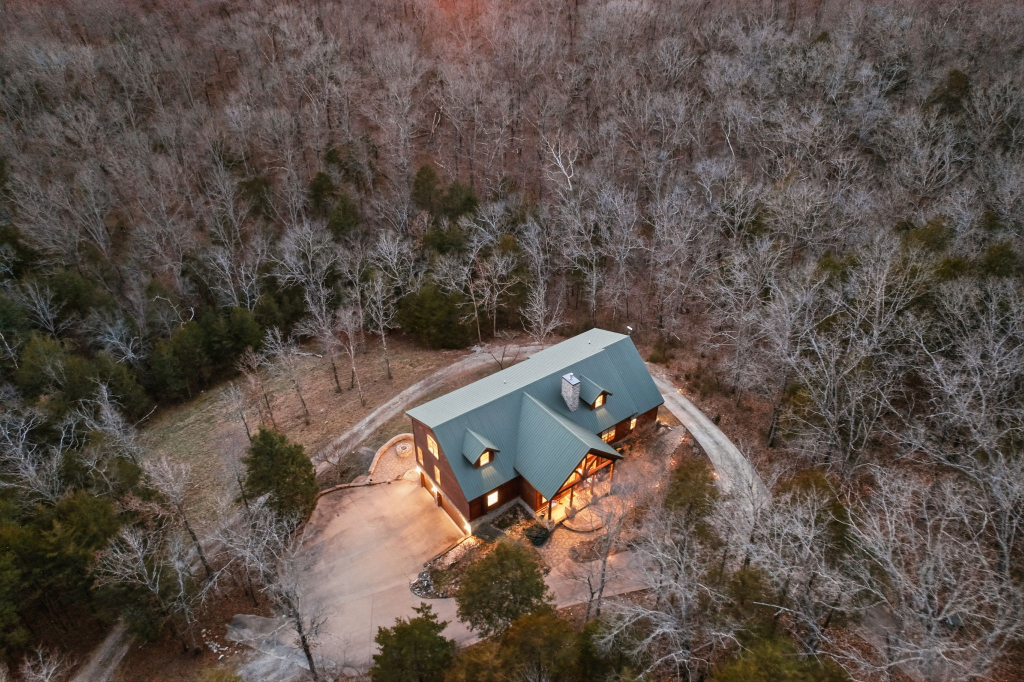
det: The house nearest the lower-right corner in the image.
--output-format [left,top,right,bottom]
[405,328,665,538]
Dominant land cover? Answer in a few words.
trees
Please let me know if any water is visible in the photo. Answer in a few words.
No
